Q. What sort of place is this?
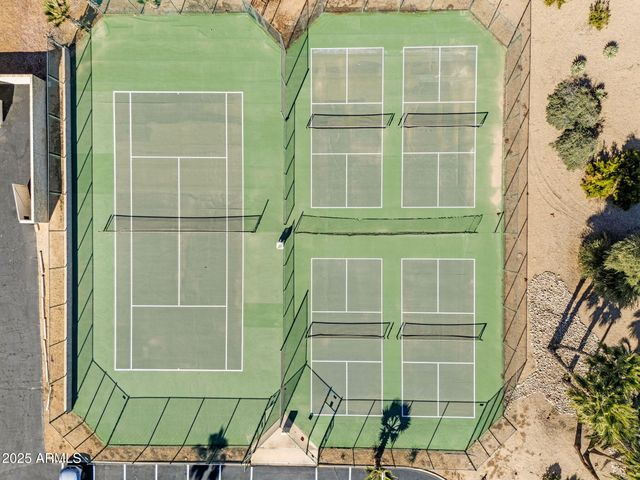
sports ground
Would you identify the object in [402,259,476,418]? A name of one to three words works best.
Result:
sports court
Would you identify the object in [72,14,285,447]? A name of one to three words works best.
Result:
tennis court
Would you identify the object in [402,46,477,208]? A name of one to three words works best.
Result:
sports court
